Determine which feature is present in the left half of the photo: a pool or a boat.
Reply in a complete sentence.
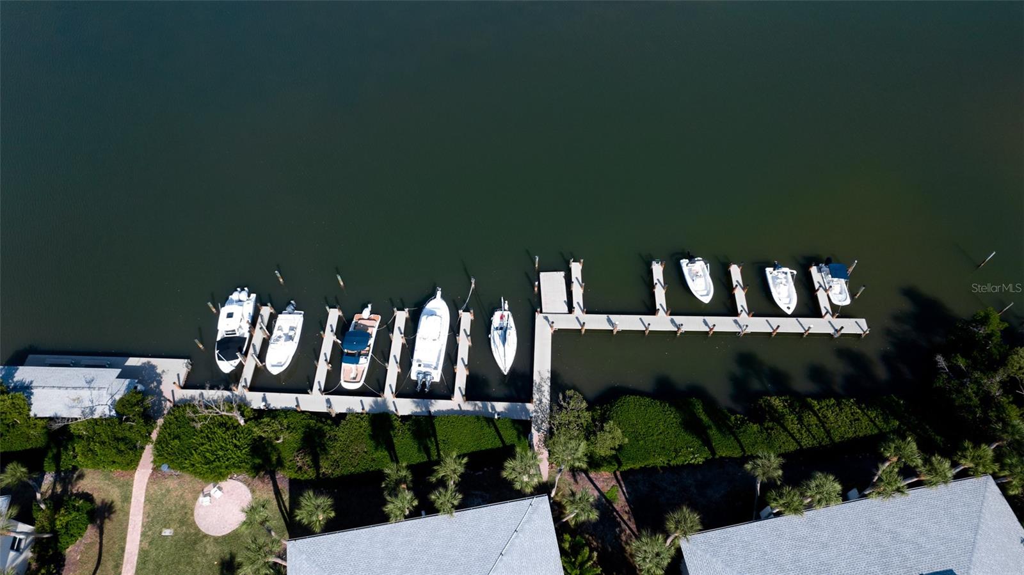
The one visible in the left half of the photo is a boat.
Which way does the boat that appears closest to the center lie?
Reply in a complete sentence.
The boat that appears closest to the center is oriented from top to bottom.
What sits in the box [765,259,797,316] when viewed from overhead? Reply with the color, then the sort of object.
white boat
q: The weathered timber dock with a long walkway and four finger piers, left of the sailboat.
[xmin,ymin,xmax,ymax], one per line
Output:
[170,303,533,421]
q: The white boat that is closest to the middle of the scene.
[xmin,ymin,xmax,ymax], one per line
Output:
[489,299,520,377]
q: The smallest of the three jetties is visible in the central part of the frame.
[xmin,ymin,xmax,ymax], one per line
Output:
[540,272,568,313]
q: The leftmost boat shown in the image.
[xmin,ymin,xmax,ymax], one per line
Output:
[217,288,256,376]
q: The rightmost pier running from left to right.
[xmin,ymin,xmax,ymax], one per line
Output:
[531,258,870,432]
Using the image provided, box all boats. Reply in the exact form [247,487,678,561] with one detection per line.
[821,257,855,307]
[765,259,797,316]
[680,251,712,305]
[268,300,306,377]
[217,288,256,376]
[343,304,380,390]
[489,299,520,377]
[409,287,452,399]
